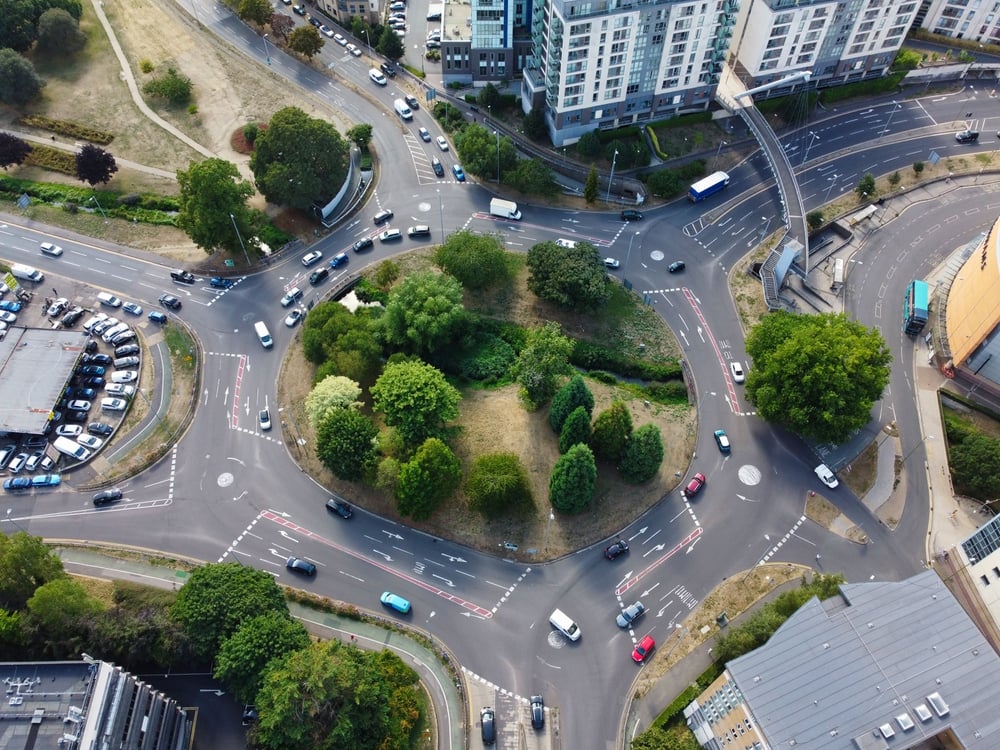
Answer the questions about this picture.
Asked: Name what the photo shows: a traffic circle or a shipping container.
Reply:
traffic circle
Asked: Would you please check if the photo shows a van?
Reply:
Yes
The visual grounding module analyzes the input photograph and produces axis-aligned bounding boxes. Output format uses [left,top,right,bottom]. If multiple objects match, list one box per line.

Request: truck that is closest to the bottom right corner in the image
[812,459,843,491]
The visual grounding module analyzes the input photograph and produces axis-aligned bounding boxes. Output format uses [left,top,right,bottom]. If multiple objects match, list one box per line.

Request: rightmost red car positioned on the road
[685,474,707,498]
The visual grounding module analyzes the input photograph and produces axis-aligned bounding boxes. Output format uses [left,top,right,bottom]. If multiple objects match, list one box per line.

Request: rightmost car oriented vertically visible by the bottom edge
[528,693,546,733]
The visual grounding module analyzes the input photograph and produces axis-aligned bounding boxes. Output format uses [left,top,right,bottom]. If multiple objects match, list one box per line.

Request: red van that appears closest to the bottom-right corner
[628,631,659,664]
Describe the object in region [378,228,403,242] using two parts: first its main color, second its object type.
white car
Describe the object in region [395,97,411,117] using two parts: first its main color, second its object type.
white vehicle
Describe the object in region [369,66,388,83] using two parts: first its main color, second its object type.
white vehicle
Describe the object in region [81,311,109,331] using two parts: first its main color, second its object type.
white car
